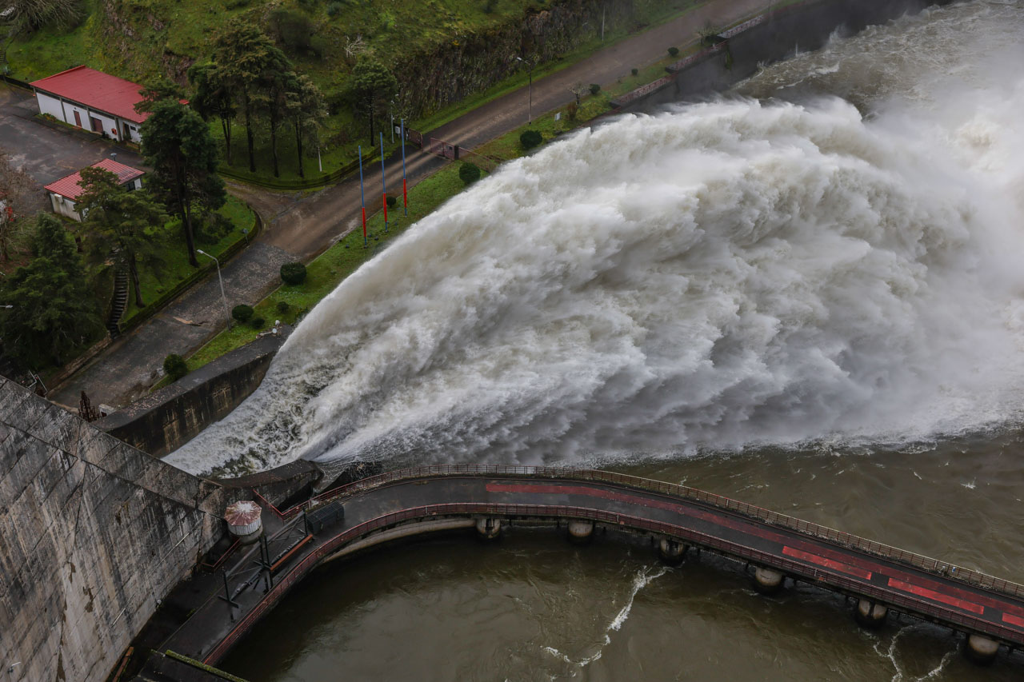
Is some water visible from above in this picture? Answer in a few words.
Yes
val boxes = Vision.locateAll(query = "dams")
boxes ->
[0,373,231,682]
